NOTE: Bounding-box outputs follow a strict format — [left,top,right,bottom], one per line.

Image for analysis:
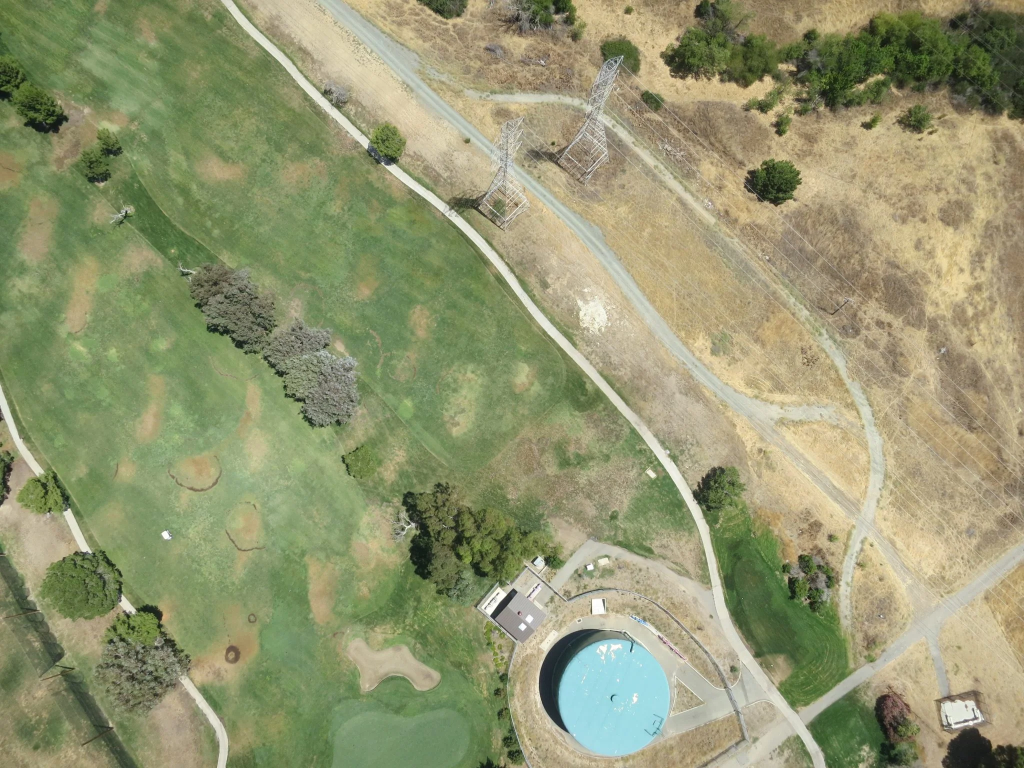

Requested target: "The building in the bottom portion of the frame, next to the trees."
[495,590,546,644]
